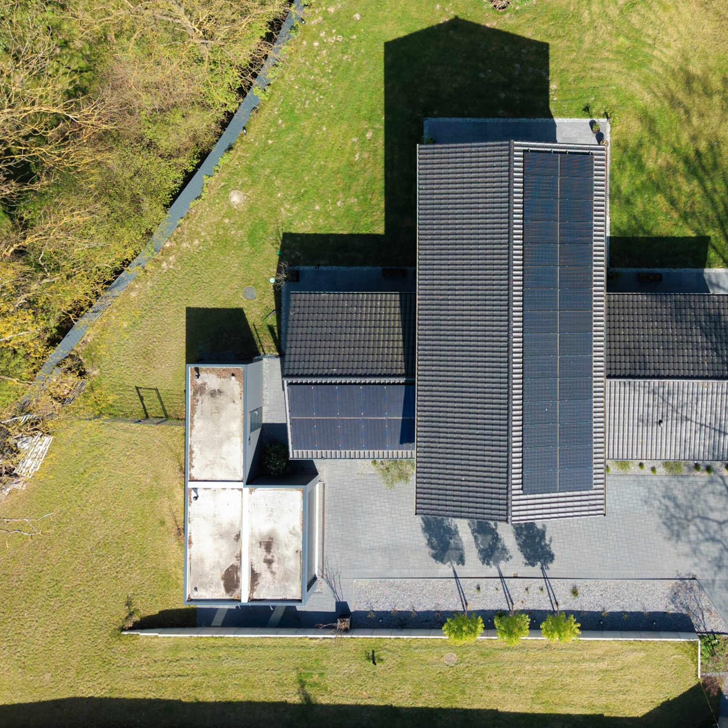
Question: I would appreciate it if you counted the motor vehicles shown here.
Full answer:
Not a single motor vehicle can be seen.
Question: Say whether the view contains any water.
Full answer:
No, there is no water in the image.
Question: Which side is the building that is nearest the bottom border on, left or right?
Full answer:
You can find the building that is nearest the bottom border on the left side of the picture.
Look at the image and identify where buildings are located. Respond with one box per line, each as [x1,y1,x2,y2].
[185,360,324,604]
[280,137,728,527]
